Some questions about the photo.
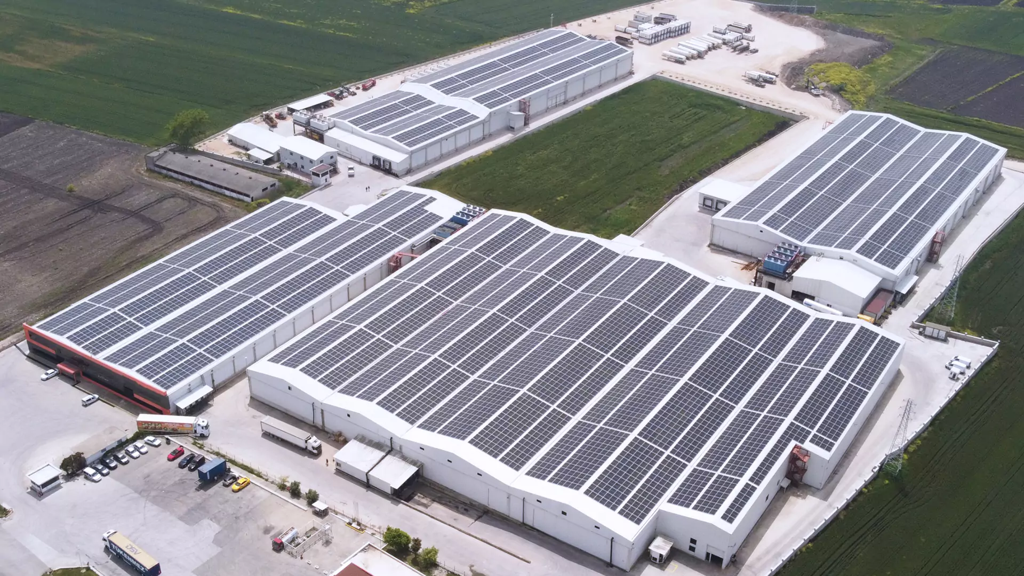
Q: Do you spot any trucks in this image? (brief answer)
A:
Yes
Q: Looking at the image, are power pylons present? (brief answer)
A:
Yes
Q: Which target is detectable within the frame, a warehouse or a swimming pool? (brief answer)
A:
warehouse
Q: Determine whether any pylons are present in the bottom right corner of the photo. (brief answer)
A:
Yes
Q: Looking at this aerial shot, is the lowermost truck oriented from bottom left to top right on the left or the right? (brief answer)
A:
left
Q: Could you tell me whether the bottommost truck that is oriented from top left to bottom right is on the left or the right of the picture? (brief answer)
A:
left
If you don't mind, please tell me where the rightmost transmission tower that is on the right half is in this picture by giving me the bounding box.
[936,256,967,321]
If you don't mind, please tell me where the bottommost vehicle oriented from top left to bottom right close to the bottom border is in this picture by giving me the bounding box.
[97,528,163,576]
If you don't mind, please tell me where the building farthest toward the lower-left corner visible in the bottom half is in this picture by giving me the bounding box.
[24,459,61,491]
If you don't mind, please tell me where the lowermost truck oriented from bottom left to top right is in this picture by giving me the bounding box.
[269,515,301,553]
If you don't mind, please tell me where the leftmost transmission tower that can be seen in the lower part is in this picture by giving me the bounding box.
[882,398,920,475]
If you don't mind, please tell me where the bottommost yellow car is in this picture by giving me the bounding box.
[230,475,252,491]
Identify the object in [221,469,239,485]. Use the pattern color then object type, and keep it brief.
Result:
gray car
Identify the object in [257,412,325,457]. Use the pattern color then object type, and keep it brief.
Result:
white truck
